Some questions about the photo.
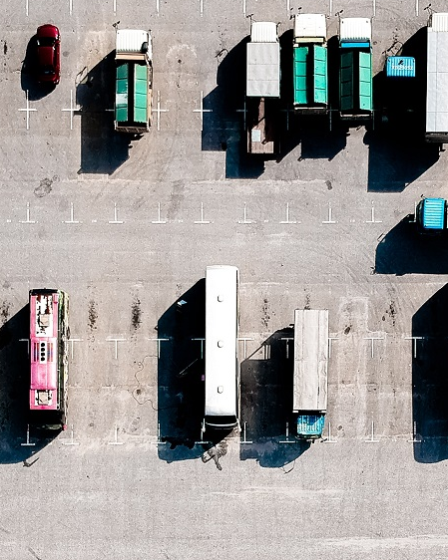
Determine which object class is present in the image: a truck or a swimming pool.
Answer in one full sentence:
Looking from above, you can make out a truck.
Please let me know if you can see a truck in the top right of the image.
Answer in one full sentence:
Yes, there is a truck in the top right of the image.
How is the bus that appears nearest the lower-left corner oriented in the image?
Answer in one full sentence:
In this picture, the bus that appears nearest the lower-left corner is oriented up and down.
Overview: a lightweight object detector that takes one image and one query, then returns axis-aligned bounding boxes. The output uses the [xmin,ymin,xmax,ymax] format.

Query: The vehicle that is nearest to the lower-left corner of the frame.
[28,290,68,429]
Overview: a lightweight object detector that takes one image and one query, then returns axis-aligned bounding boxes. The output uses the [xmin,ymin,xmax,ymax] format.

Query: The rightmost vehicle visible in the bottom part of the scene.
[294,310,330,445]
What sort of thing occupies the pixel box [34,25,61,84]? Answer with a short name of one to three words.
car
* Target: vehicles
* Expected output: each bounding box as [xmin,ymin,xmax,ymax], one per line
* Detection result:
[380,48,419,126]
[28,290,68,429]
[333,11,374,123]
[204,265,241,430]
[294,310,330,445]
[422,5,448,140]
[244,13,282,157]
[34,25,61,84]
[289,6,330,120]
[413,194,448,237]
[111,21,153,137]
